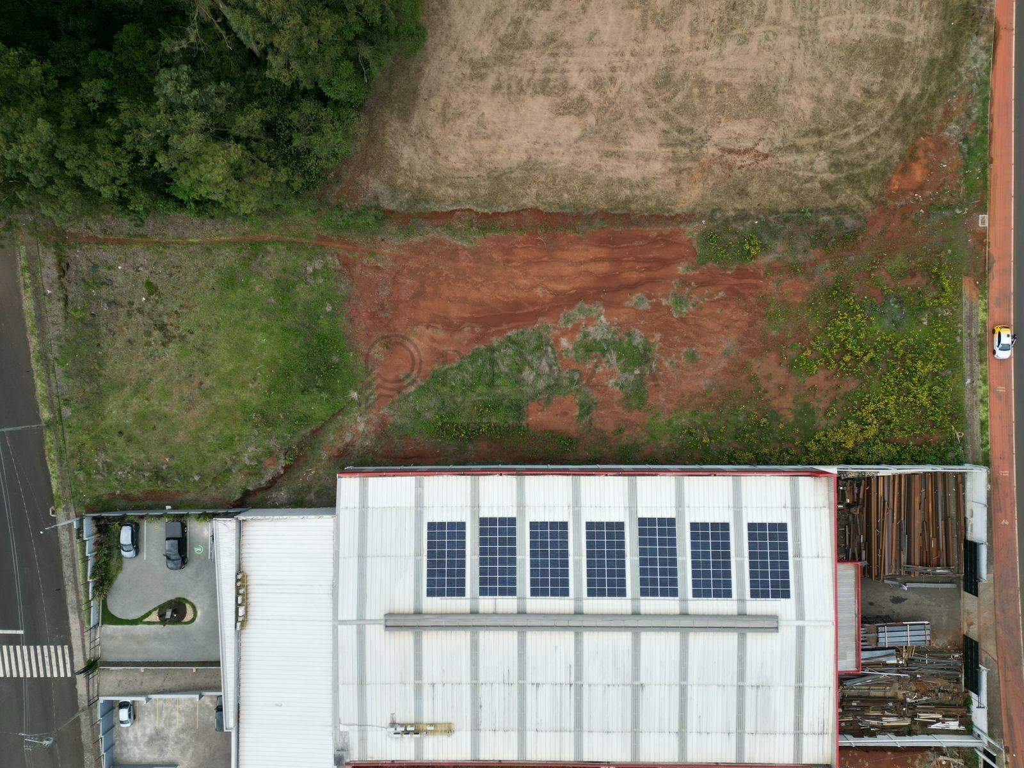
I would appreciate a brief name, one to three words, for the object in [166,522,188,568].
truck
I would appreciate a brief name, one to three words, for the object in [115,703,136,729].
car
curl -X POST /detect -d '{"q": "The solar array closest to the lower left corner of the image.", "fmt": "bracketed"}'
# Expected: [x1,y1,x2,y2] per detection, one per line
[427,520,466,598]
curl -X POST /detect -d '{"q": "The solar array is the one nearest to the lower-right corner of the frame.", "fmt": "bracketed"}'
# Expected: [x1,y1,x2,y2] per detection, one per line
[748,521,790,600]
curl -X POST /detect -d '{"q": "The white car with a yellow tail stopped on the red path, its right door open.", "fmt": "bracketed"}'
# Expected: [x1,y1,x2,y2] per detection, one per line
[991,324,1019,359]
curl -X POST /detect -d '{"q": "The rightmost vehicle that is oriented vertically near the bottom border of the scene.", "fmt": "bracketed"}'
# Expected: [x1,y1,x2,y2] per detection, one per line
[213,697,232,736]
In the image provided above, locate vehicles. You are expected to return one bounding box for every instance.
[115,703,136,729]
[213,697,232,736]
[118,523,139,558]
[991,324,1019,359]
[166,522,188,568]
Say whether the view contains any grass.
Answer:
Yes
